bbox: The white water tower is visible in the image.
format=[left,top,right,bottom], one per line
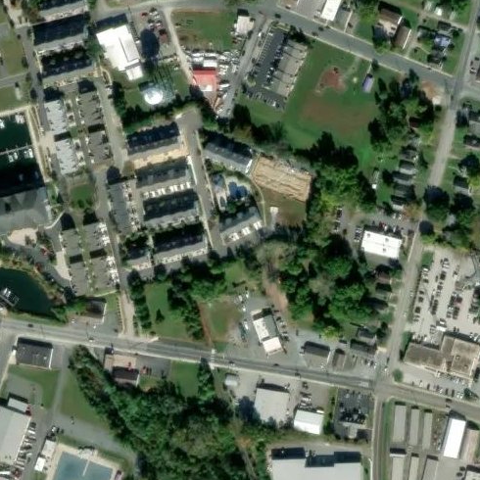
[142,80,173,108]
